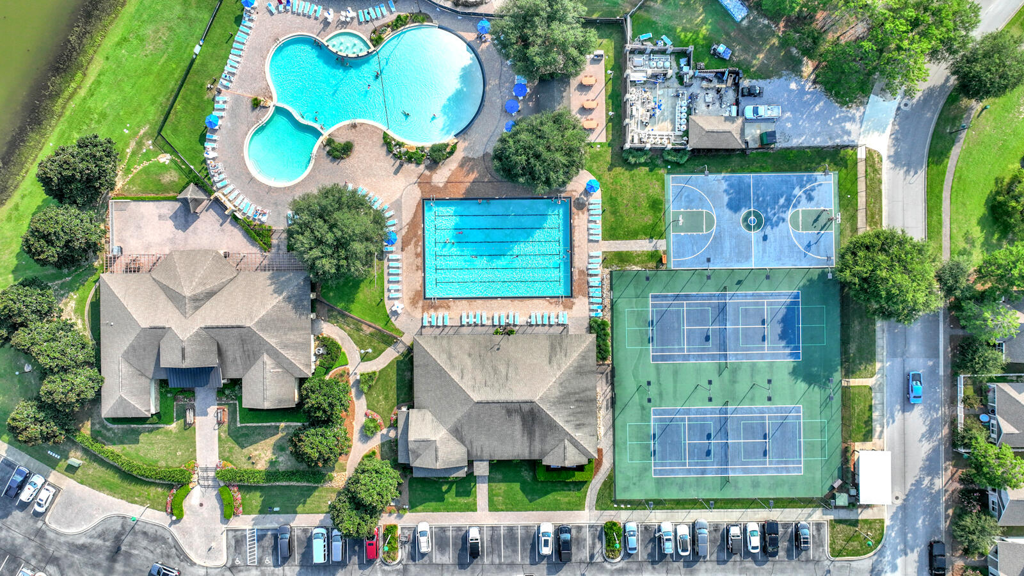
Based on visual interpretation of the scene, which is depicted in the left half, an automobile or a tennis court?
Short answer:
automobile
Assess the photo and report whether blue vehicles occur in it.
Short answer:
Yes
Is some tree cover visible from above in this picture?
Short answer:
Yes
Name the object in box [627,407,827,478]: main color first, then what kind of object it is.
blue tennis court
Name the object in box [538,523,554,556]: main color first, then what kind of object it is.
white car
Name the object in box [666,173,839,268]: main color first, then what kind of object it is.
blue basketball court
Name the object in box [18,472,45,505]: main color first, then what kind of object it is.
white car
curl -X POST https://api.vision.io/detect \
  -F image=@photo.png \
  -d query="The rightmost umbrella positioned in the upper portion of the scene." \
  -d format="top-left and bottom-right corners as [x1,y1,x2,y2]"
[585,179,599,193]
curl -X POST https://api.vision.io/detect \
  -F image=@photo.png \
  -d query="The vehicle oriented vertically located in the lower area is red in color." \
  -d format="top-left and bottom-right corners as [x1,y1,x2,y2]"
[364,527,379,560]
